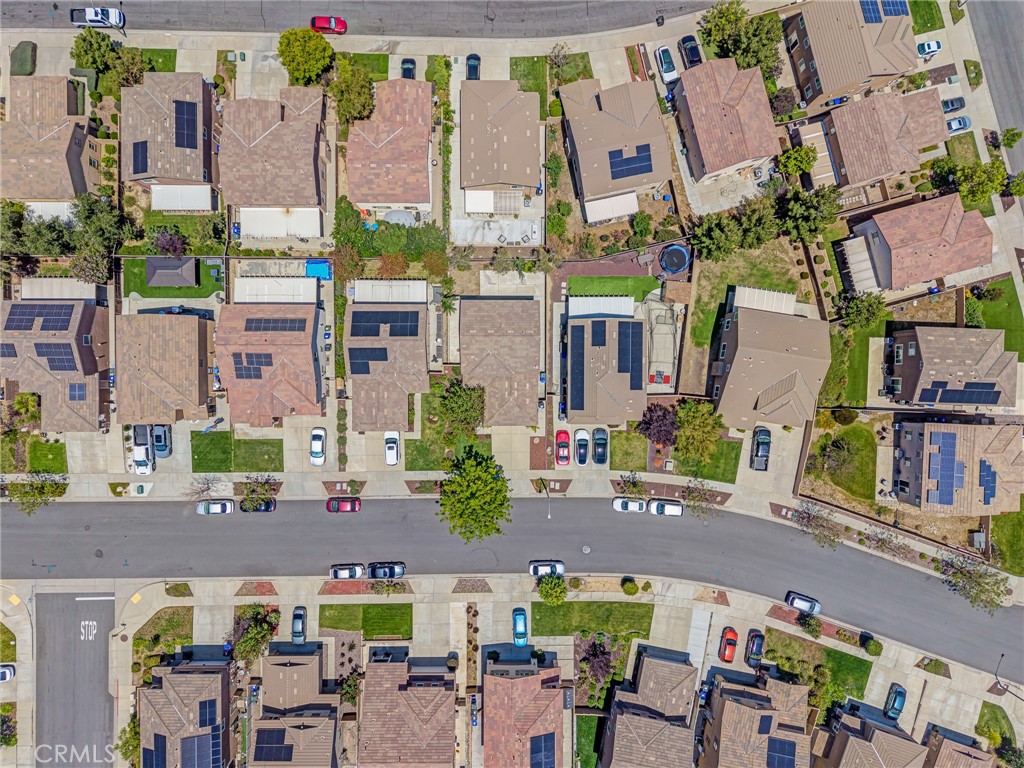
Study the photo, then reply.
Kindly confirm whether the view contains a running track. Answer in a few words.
No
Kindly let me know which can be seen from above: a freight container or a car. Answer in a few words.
car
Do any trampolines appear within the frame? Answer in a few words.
Yes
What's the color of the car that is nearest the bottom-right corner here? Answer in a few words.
blue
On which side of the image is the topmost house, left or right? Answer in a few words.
right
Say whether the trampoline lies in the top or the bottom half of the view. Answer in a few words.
top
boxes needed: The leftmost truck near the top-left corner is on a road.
[71,6,124,28]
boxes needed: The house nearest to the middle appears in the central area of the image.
[459,298,541,426]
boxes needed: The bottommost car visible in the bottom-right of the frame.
[883,682,908,719]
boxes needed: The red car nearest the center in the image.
[554,429,572,466]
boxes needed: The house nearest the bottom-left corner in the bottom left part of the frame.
[139,657,235,768]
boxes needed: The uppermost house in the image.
[781,0,916,106]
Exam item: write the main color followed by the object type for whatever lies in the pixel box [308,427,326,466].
white car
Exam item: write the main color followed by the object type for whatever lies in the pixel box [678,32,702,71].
black car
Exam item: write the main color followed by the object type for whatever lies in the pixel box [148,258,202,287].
gray gazebo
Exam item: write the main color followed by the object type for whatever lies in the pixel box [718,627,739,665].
red car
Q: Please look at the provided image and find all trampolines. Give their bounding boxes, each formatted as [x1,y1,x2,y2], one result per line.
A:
[659,243,692,275]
